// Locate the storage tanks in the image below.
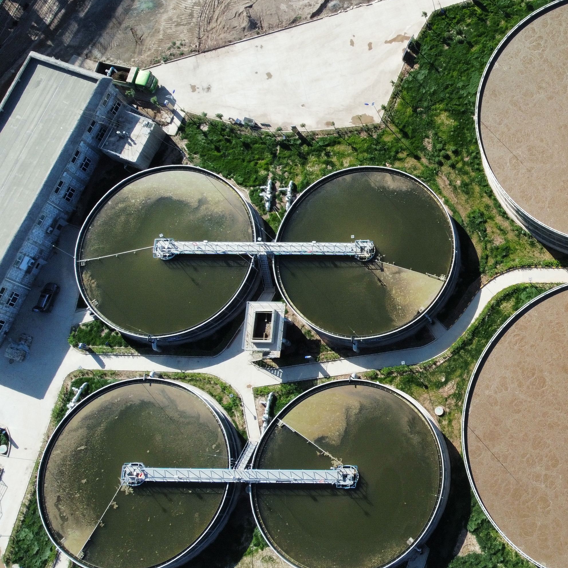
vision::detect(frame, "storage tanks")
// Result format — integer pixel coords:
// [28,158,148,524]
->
[476,0,568,255]
[274,165,462,347]
[75,165,267,347]
[462,283,568,568]
[249,378,451,568]
[37,377,245,568]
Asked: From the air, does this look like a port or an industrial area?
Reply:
industrial area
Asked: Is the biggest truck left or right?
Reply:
left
